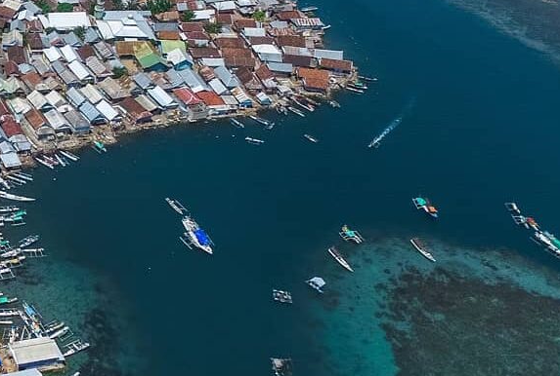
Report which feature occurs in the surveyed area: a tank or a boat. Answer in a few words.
boat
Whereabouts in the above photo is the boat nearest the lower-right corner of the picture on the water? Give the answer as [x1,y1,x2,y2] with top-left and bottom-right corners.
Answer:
[530,231,560,262]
